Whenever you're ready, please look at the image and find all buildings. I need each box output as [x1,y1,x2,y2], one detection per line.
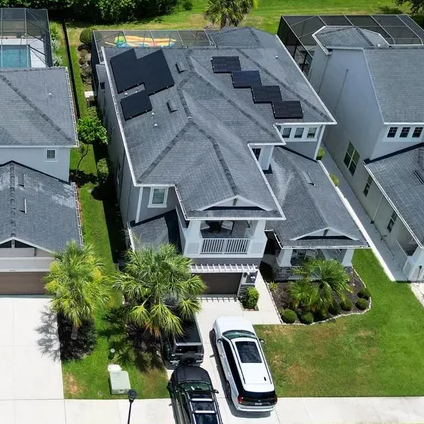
[102,29,373,298]
[0,65,85,292]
